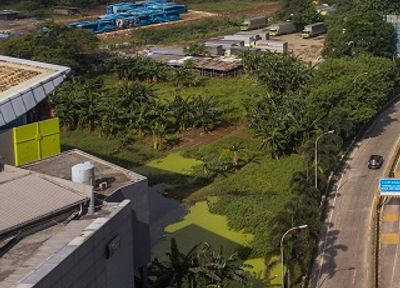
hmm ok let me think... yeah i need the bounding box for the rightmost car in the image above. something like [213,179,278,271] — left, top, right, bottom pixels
[365,153,382,169]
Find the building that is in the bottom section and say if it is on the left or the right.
left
